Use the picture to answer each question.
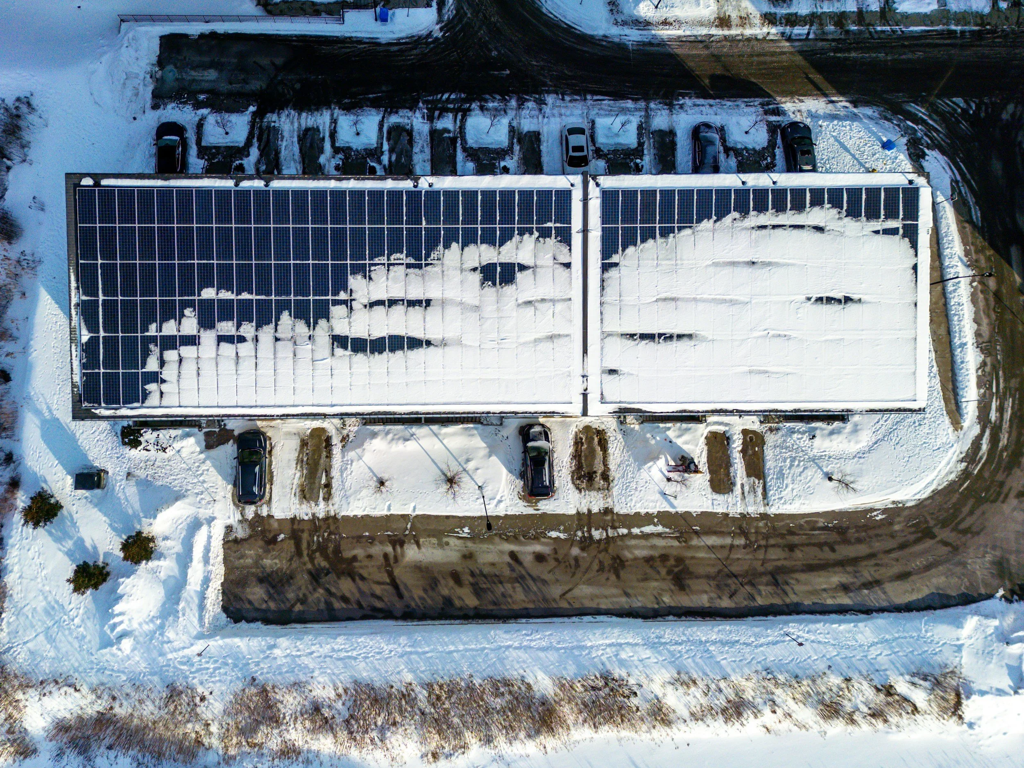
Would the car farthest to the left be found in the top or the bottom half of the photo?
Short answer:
top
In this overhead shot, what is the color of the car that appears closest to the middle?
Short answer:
black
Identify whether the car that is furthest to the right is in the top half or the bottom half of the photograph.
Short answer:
top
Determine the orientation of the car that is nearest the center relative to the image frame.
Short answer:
from top to bottom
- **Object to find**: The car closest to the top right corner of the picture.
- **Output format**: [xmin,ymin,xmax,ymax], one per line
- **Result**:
[778,122,818,172]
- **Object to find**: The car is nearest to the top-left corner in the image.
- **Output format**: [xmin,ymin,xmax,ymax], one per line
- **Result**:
[151,125,187,172]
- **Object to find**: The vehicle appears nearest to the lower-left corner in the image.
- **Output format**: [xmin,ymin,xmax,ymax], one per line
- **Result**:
[234,430,270,504]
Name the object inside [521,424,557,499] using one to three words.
car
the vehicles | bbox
[689,123,725,172]
[560,121,594,172]
[778,122,818,172]
[521,424,557,499]
[151,125,187,172]
[234,430,270,504]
